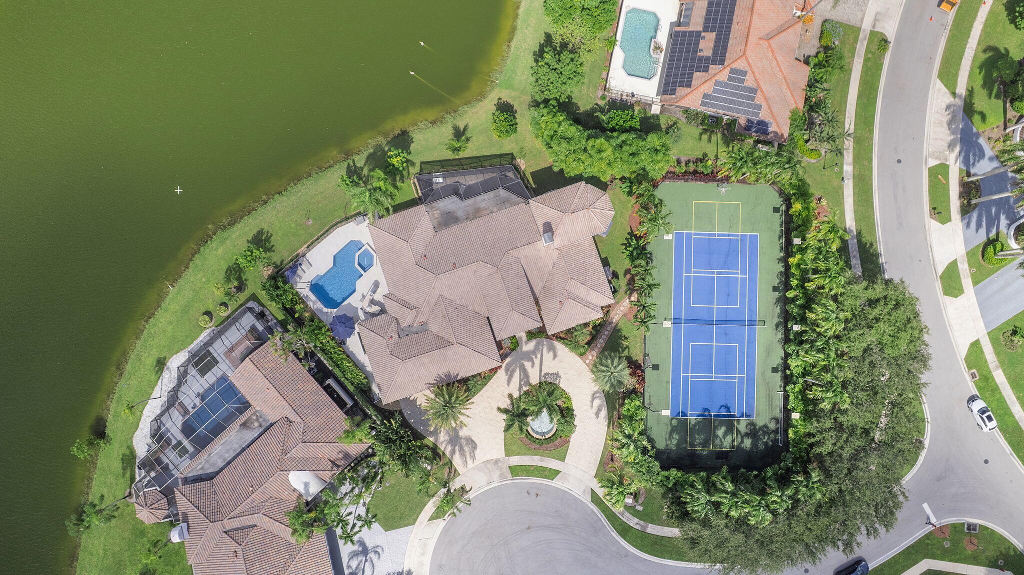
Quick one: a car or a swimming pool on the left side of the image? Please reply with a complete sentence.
You can see a swimming pool on the left side of the image.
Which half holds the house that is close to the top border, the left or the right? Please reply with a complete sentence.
The house that is close to the top border is on the right side of the image.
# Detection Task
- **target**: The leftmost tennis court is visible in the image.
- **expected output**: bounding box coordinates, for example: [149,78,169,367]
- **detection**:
[644,182,787,469]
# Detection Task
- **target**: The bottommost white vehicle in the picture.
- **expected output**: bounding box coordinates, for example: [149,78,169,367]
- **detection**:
[967,397,1000,434]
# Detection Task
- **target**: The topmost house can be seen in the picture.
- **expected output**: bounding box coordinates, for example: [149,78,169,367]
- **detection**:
[660,0,815,144]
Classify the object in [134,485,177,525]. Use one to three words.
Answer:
gazebo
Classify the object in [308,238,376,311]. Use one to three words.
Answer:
swimming pool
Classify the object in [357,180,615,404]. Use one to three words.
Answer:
house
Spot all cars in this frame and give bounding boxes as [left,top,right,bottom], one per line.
[831,559,868,575]
[967,397,1000,434]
